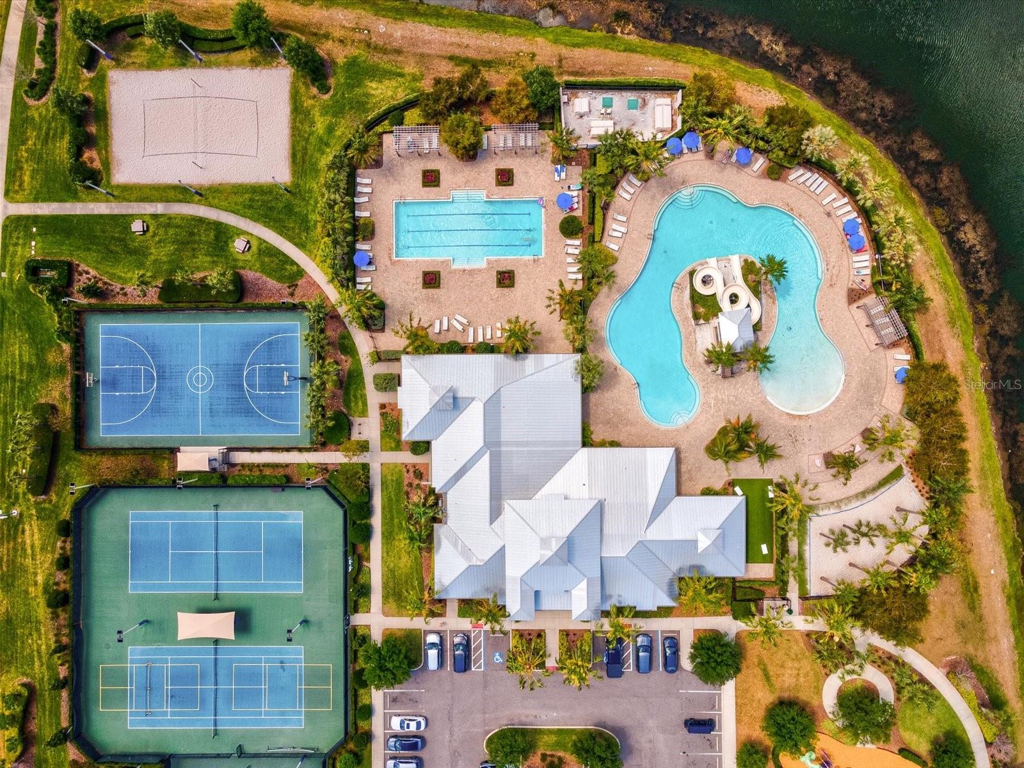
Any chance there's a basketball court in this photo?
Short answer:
Yes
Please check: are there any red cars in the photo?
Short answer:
No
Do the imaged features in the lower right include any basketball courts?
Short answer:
No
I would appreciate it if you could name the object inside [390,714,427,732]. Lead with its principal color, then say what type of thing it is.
white car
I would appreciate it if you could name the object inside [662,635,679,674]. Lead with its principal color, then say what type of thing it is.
blue car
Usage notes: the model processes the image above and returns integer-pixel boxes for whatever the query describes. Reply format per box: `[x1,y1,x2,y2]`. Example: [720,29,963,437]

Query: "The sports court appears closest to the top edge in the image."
[109,68,291,185]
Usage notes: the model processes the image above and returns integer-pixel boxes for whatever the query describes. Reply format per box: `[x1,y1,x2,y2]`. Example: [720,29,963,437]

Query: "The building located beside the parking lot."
[397,354,745,621]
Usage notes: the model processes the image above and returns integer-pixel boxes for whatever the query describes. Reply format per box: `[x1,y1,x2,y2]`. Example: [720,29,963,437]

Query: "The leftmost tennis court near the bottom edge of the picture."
[81,491,349,768]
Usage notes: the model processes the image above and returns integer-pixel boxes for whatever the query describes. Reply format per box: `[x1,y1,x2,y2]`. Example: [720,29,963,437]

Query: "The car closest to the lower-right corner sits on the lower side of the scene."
[682,716,715,736]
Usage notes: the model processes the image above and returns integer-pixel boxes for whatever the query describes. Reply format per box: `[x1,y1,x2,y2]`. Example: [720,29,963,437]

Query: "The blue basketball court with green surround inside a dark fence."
[84,311,311,447]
